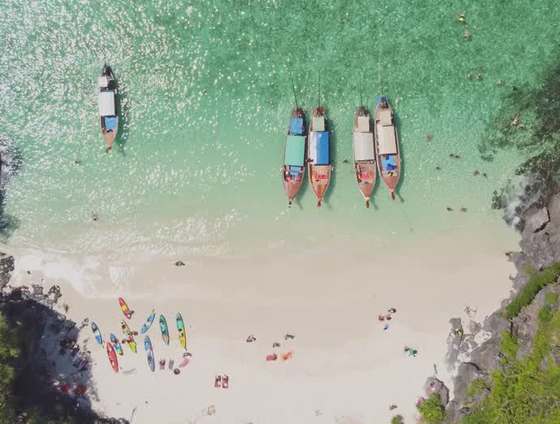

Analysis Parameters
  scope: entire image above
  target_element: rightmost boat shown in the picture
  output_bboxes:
[377,67,402,203]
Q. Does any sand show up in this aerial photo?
Yes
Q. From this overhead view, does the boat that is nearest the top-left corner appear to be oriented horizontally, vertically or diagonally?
vertically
